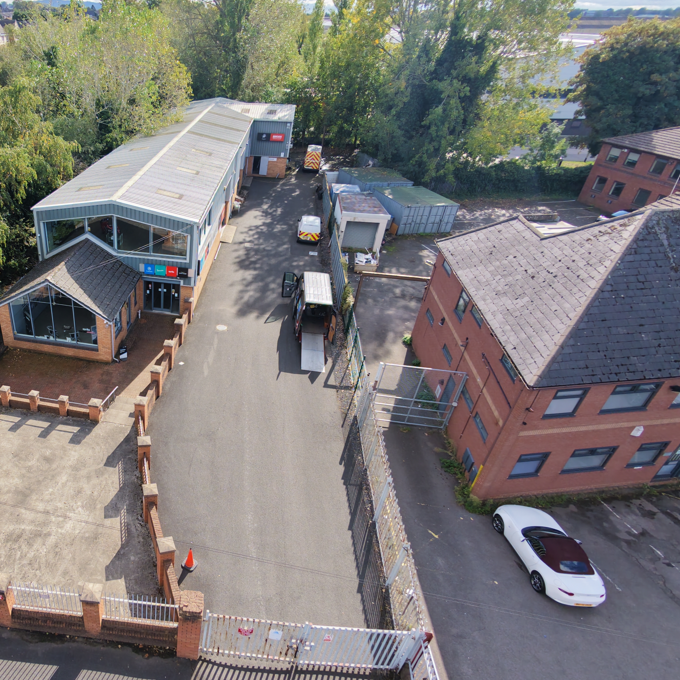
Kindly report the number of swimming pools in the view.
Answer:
none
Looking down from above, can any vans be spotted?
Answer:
Yes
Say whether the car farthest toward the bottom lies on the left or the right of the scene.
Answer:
right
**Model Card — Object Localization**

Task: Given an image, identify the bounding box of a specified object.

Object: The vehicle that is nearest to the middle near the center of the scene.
[276,278,346,376]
